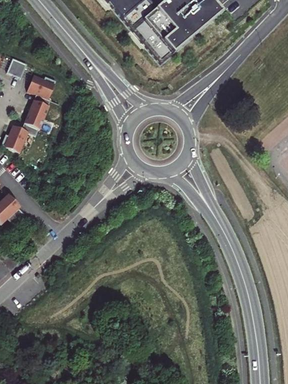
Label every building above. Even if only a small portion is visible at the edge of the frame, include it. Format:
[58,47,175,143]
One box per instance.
[0,193,20,226]
[4,124,28,154]
[6,58,24,80]
[27,75,54,100]
[24,99,49,128]
[97,0,224,64]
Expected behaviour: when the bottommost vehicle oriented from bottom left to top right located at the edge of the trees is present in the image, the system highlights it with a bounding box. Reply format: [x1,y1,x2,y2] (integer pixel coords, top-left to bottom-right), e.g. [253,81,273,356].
[12,263,30,278]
